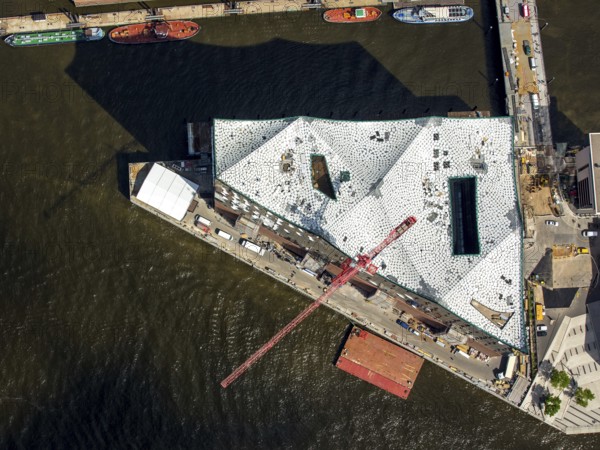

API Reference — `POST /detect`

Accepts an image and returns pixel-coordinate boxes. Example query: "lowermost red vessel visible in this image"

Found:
[336,358,410,399]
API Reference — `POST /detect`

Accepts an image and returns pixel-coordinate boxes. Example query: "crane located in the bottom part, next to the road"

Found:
[217,215,413,386]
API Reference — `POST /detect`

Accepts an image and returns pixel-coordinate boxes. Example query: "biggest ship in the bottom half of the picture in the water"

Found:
[339,326,424,388]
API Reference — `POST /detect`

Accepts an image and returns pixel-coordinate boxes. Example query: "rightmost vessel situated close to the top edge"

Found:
[390,0,475,24]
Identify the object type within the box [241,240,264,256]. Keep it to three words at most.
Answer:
vehicle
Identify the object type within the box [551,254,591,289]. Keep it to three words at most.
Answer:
building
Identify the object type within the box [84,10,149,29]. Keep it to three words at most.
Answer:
pier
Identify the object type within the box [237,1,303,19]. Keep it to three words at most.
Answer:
pier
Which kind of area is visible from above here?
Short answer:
port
